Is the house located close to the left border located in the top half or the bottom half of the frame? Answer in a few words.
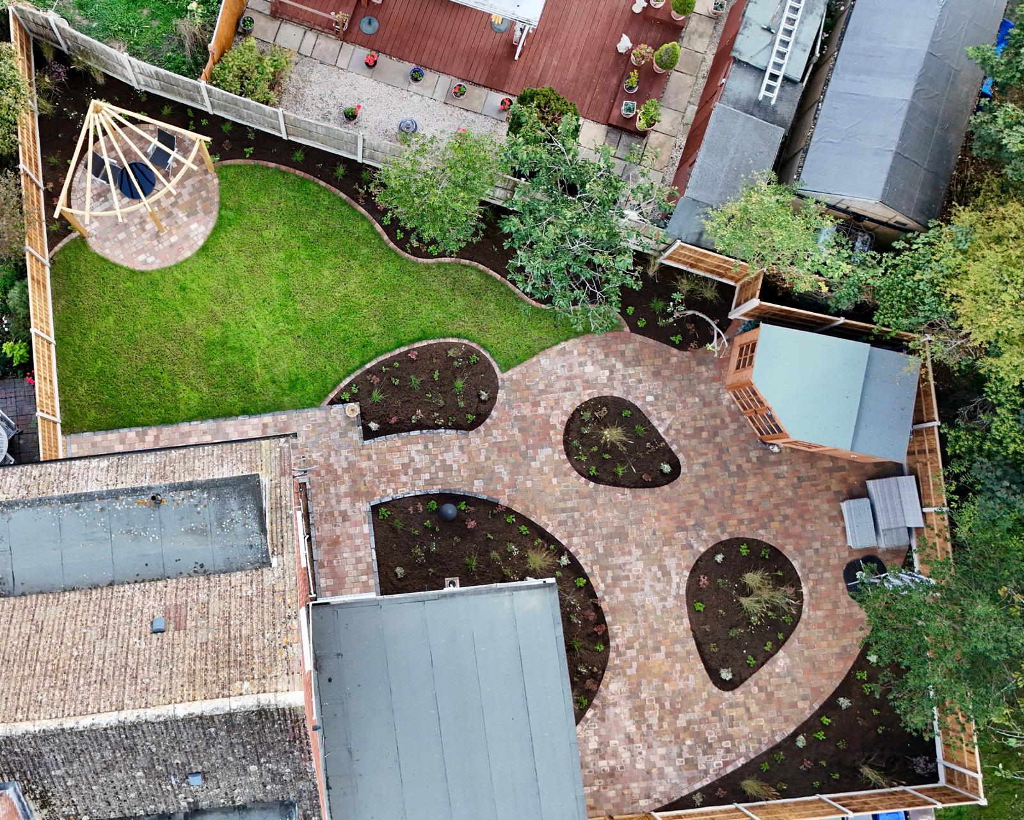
bottom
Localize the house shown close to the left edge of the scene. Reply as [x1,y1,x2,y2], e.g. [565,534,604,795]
[0,432,330,820]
